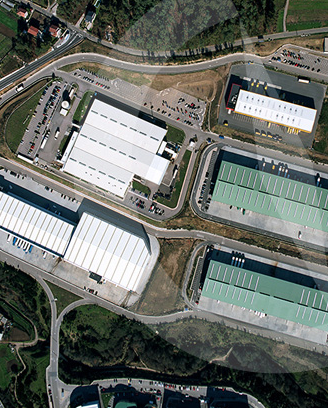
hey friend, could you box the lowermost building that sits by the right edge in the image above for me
[201,259,328,334]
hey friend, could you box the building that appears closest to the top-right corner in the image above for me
[225,83,317,133]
